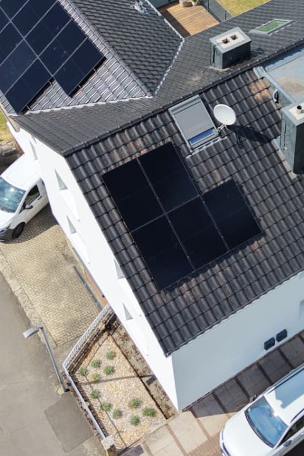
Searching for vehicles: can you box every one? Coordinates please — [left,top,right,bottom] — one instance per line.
[228,372,304,456]
[0,128,45,237]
